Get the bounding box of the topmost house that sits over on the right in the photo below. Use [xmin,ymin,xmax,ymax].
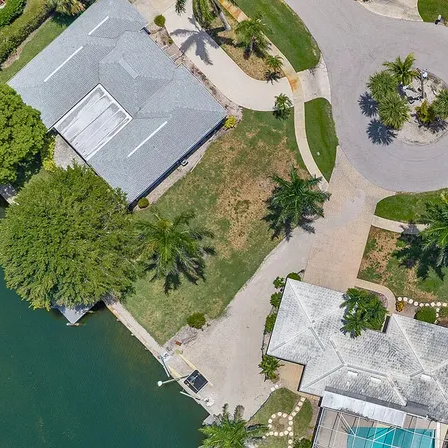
[267,278,448,427]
